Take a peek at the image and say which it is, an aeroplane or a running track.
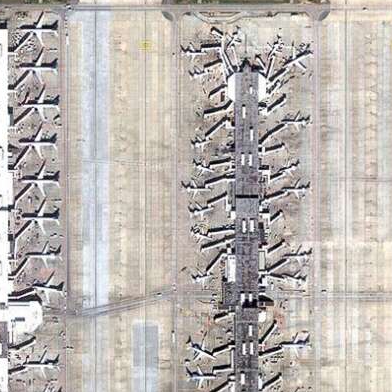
aeroplane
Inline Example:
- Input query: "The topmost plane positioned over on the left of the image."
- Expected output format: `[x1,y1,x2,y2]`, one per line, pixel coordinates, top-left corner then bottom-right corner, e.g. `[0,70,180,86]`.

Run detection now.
[19,15,57,46]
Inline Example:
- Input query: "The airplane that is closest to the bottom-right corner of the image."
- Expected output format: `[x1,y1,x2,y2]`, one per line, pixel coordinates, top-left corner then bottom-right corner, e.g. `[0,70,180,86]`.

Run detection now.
[282,335,311,357]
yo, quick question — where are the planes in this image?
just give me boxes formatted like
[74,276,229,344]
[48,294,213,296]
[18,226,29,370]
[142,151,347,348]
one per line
[22,203,58,233]
[20,90,58,121]
[26,243,61,270]
[279,159,301,175]
[283,245,311,266]
[186,367,216,389]
[192,269,212,284]
[282,335,311,357]
[191,227,212,241]
[181,44,206,63]
[19,128,56,158]
[282,180,310,201]
[283,43,316,71]
[189,202,213,220]
[19,165,59,197]
[193,160,214,174]
[182,177,211,199]
[191,136,211,150]
[186,340,216,361]
[19,15,57,46]
[268,34,284,56]
[25,353,60,379]
[282,112,311,134]
[283,269,308,287]
[32,275,65,305]
[19,53,57,83]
